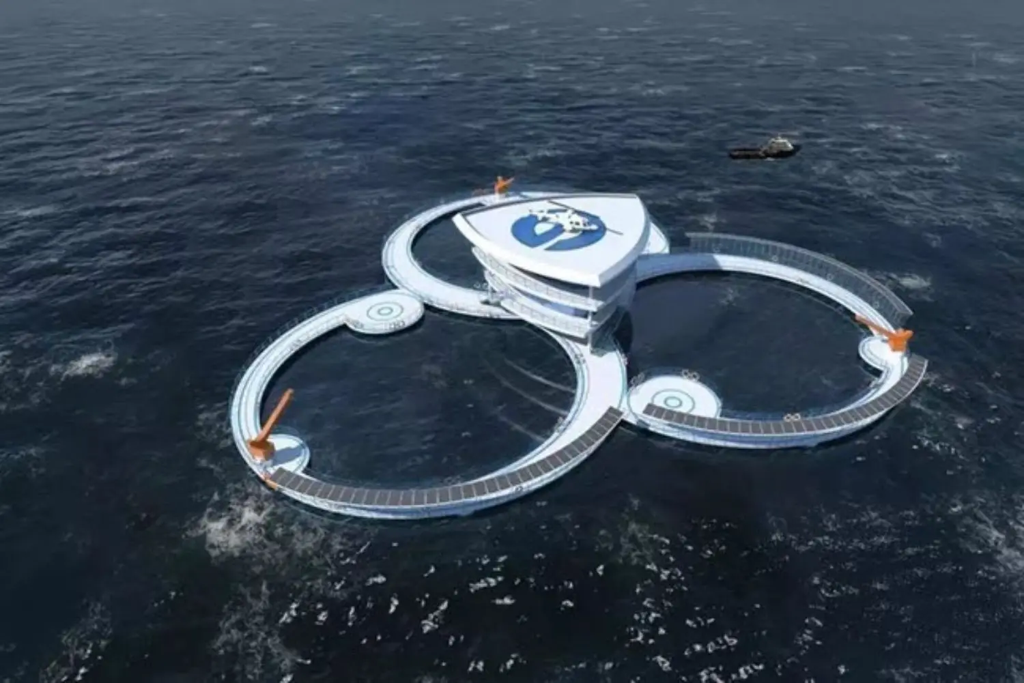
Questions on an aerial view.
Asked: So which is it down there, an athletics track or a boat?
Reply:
boat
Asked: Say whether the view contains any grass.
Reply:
No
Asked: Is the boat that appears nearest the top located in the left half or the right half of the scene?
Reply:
right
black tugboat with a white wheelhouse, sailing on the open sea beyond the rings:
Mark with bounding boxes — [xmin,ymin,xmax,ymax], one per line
[727,130,806,160]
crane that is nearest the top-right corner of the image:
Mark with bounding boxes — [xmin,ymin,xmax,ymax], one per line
[851,313,919,355]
